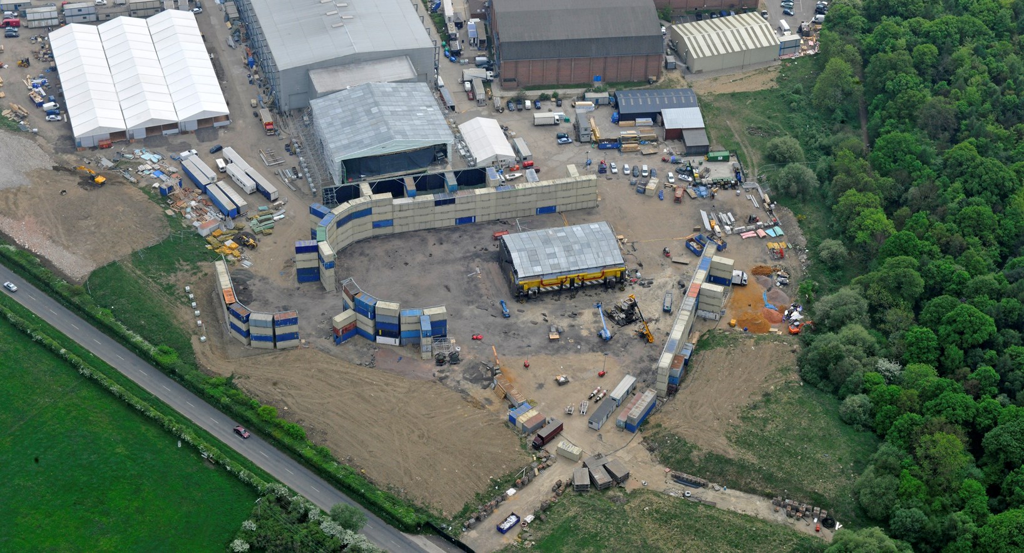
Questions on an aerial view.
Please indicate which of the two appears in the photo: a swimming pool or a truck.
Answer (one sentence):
I can see a truck in this picture.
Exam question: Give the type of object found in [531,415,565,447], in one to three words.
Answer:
truck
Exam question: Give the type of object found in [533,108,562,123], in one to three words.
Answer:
vehicle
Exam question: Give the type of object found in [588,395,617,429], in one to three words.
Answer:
building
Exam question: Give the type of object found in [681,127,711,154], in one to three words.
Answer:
shed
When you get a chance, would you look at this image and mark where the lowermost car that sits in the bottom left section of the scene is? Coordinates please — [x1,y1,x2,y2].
[233,425,250,437]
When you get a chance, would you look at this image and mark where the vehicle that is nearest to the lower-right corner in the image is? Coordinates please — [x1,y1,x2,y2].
[787,313,819,332]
